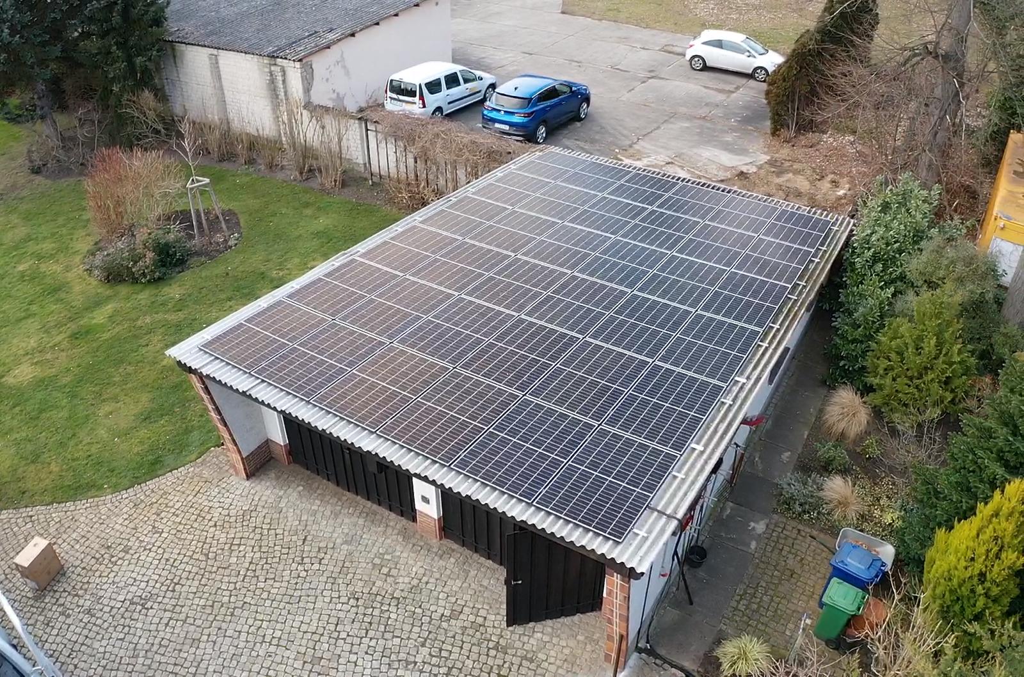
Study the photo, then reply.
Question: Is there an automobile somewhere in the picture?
Yes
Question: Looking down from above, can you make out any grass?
Yes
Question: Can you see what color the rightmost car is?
white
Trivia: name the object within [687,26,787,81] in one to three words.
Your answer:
car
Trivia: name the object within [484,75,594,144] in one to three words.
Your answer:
car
